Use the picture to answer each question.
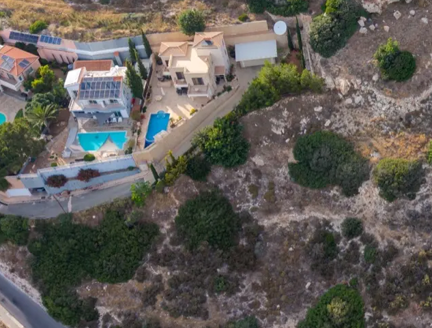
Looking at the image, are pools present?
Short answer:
Yes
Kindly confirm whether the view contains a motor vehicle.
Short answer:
No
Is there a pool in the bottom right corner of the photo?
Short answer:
No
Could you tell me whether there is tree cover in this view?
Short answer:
Yes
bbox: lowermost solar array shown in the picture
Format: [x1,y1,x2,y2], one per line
[79,74,124,97]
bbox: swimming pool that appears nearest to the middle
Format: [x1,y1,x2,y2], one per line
[143,112,172,149]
